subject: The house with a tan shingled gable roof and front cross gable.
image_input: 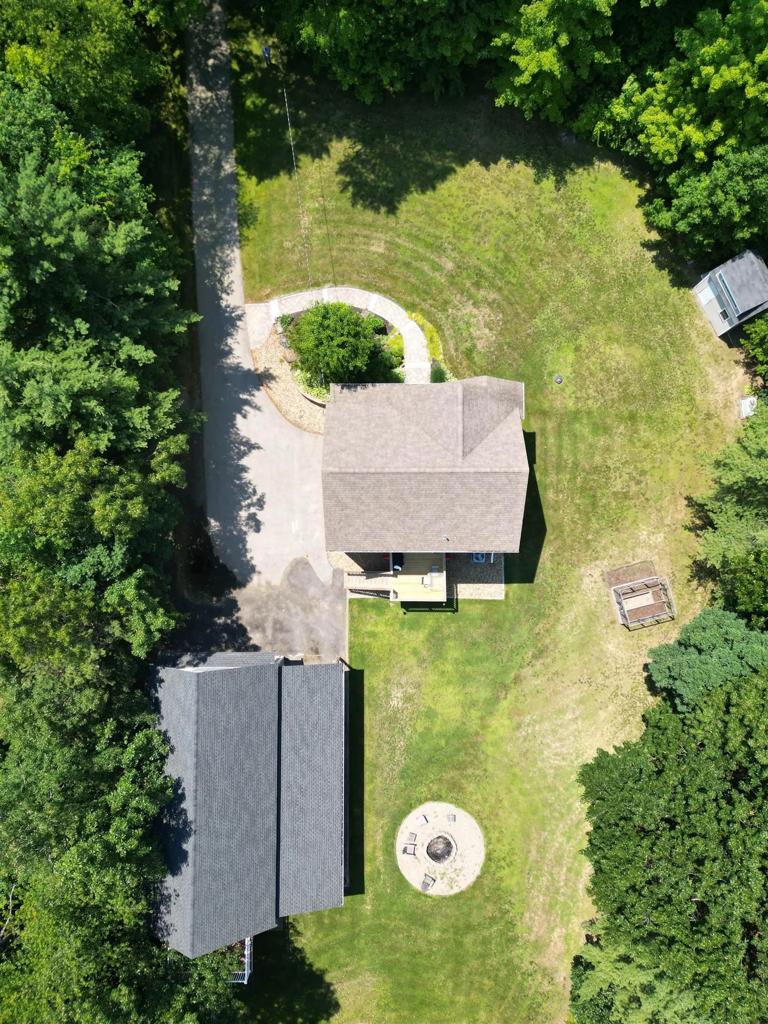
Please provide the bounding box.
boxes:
[320,370,528,554]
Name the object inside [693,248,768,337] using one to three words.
shed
